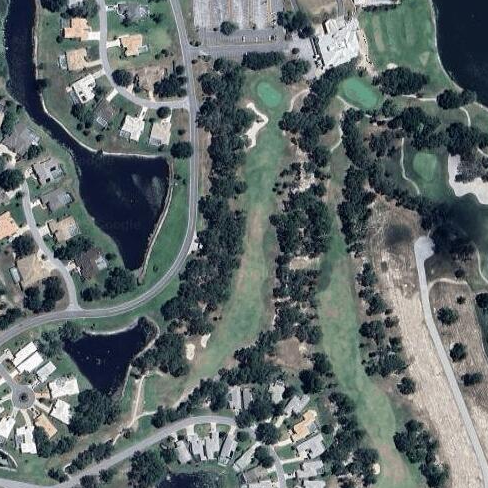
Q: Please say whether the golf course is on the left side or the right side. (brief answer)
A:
right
